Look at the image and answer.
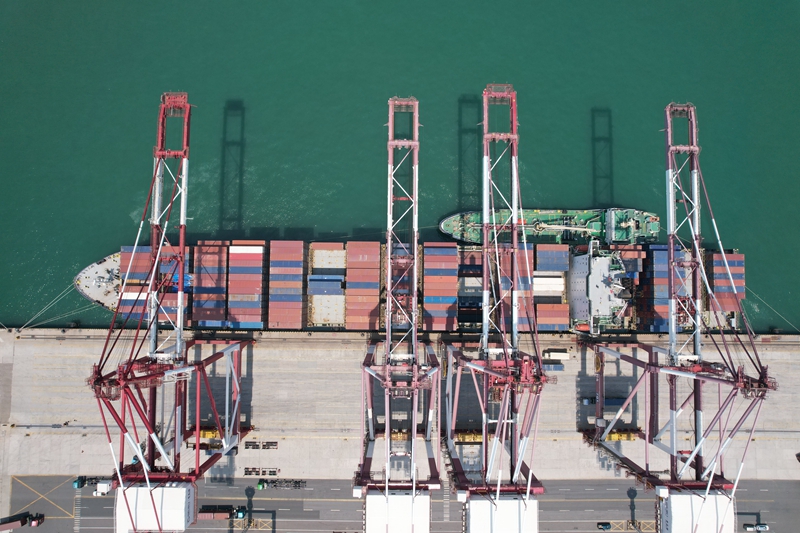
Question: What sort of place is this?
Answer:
port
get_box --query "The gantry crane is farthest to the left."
[85,87,266,533]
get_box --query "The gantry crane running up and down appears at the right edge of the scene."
[570,100,773,533]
